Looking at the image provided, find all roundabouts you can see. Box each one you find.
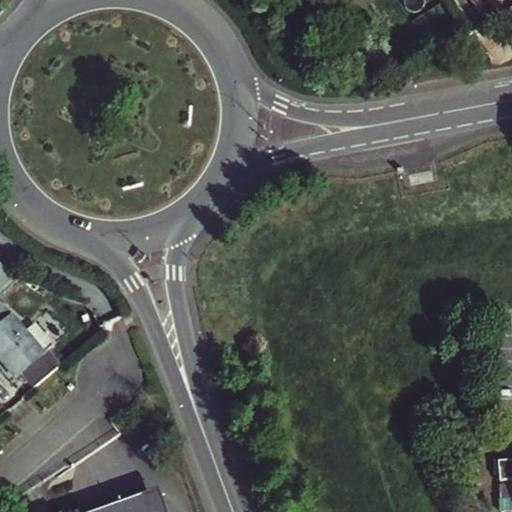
[0,0,258,257]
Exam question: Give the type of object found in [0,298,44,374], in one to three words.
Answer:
house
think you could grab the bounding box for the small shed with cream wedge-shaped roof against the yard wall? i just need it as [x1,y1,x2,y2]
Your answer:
[49,468,74,496]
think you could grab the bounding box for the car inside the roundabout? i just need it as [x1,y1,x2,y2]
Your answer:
[72,216,92,230]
